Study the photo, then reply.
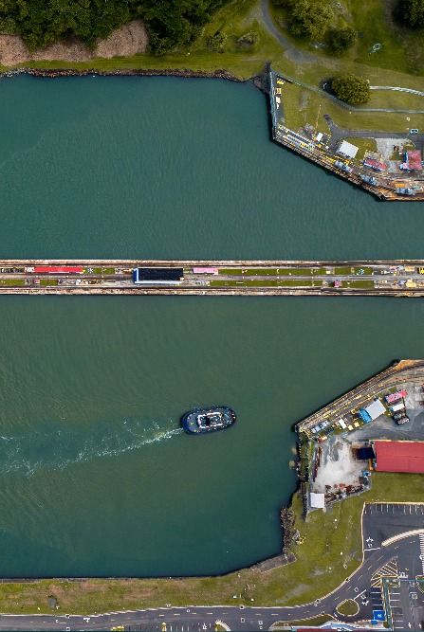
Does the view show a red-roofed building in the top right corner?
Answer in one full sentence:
Yes, looking in the top right corner, one can make out a red-roofed building.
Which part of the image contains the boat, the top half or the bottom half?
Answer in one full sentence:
The boat is in the bottom half of the image.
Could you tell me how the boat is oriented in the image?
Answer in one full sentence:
In this picture, the boat lies horizontally.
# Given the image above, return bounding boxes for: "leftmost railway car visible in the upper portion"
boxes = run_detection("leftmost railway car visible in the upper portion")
[332,161,352,174]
